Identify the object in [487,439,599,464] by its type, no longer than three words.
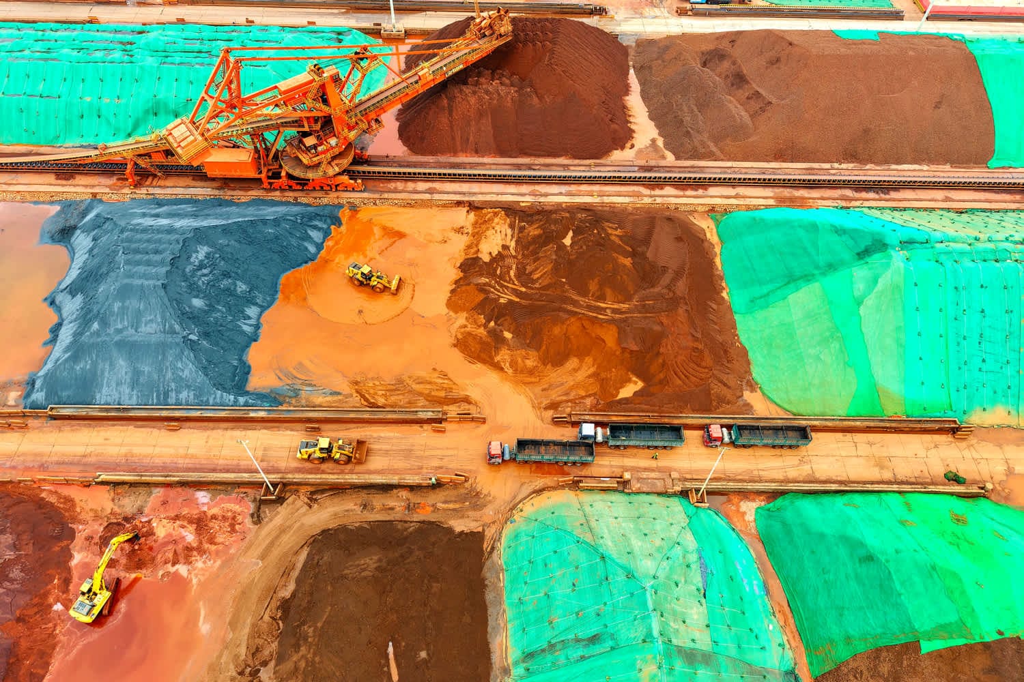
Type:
truck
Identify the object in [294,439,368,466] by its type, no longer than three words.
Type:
work vehicle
